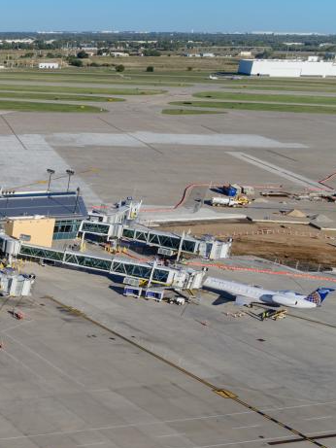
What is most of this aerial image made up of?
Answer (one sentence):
The largest share of the image is taken up by paved ground.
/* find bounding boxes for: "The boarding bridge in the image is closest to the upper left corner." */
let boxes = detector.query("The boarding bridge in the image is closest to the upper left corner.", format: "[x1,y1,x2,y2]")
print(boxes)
[82,196,112,223]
